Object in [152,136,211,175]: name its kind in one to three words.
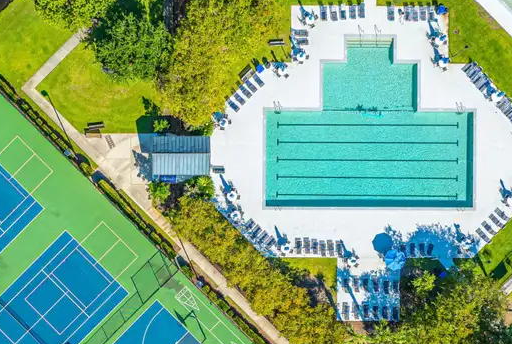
building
